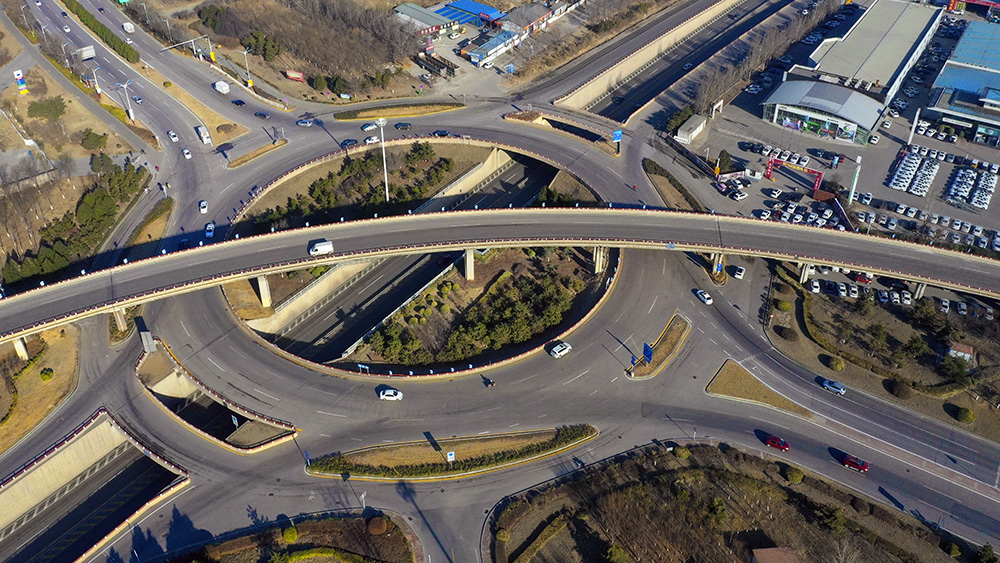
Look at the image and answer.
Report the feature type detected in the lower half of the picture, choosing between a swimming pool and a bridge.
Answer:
bridge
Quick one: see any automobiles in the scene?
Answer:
Yes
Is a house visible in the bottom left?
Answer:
No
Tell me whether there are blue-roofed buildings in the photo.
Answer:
Yes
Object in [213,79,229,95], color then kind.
white vehicle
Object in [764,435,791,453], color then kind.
red car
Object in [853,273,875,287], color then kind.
red vehicle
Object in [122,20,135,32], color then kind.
white vehicle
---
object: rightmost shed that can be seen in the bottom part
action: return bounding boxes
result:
[946,342,973,364]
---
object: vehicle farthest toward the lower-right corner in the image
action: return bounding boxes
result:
[842,454,870,473]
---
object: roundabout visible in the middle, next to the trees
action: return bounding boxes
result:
[150,112,686,435]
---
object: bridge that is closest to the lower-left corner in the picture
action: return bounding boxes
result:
[105,378,230,481]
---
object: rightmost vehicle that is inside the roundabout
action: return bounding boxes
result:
[550,343,572,358]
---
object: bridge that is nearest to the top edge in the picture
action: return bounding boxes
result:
[535,101,632,139]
